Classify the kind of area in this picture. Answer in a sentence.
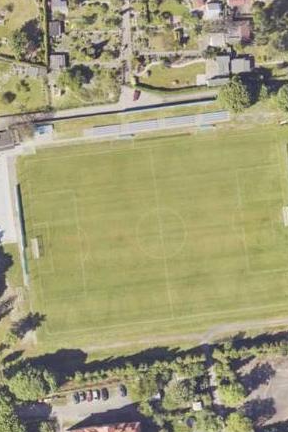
This looks like a sports ground.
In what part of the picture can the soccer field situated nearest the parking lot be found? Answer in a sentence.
Look in the center portion of the view to spot the soccer field situated nearest the parking lot.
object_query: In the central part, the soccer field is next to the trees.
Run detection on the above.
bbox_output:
[22,124,288,345]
